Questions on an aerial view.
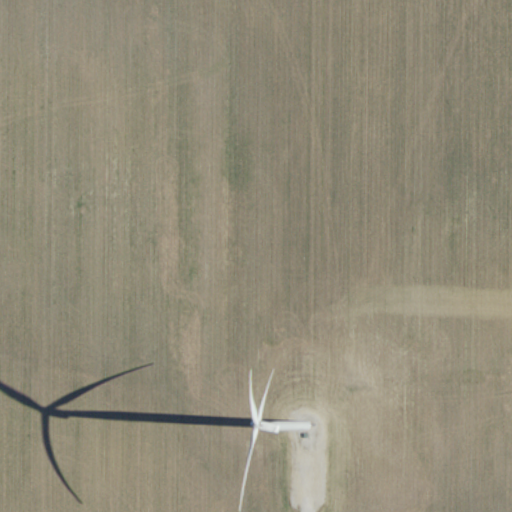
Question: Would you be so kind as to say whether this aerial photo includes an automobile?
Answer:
No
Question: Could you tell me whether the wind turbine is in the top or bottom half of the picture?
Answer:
bottom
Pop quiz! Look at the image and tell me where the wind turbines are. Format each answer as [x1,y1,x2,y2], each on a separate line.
[240,370,316,512]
